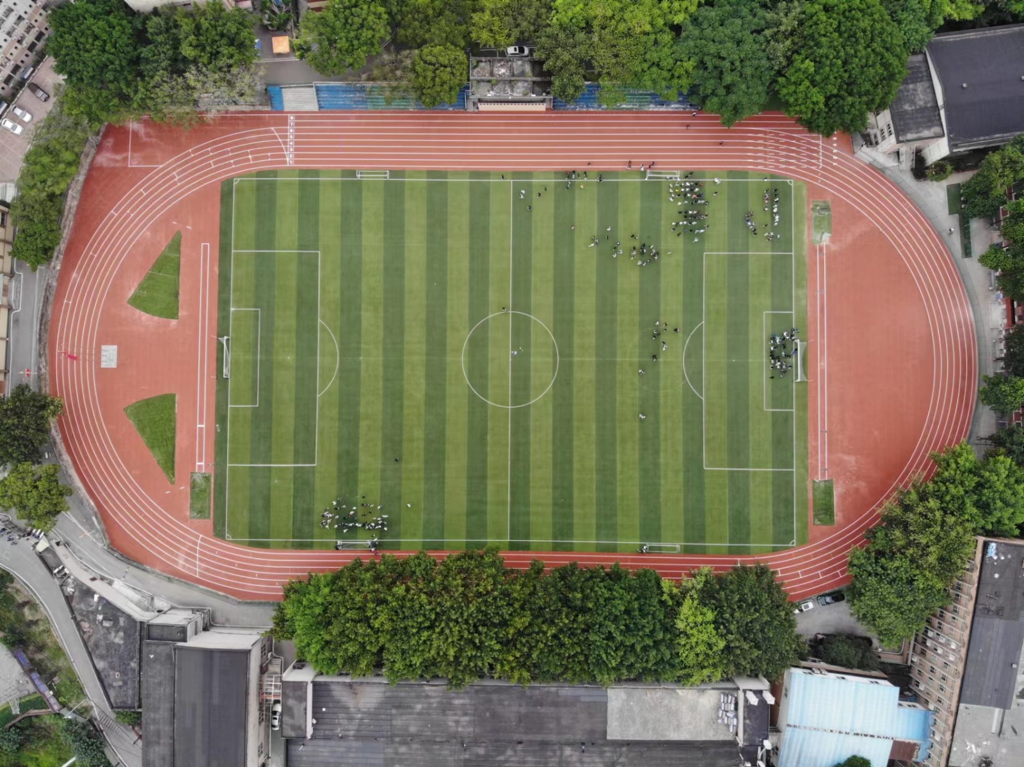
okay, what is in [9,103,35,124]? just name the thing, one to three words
car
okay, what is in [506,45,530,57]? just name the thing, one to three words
vehicle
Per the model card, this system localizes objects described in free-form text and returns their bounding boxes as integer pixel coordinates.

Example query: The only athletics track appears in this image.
[51,110,977,602]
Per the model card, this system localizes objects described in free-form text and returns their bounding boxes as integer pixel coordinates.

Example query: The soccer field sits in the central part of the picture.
[213,170,805,555]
